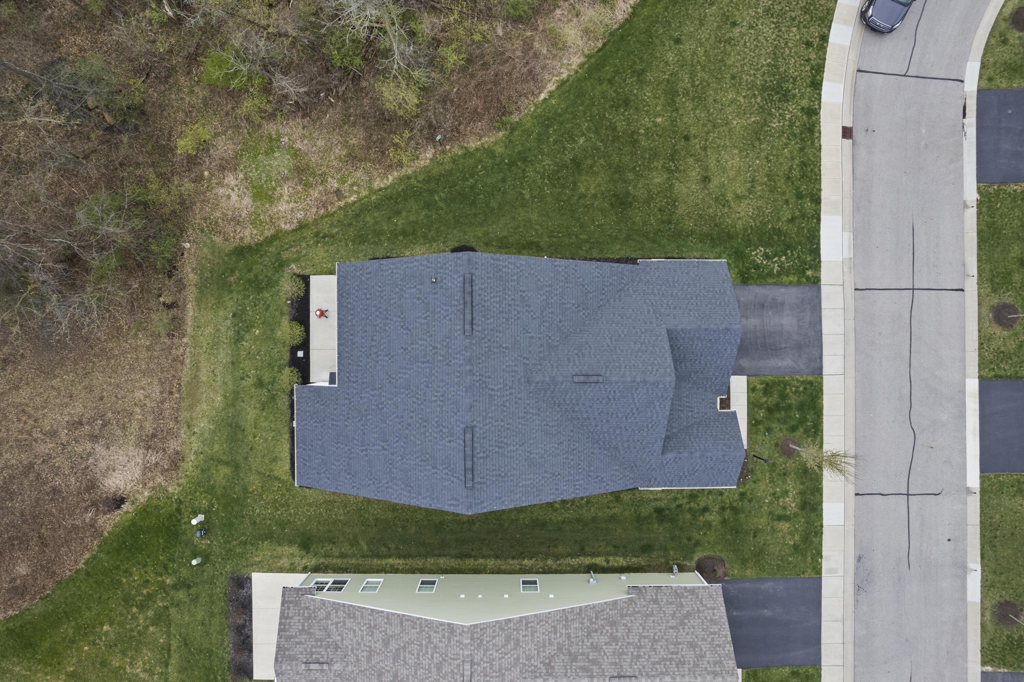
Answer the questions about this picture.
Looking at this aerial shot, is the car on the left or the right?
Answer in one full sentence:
The car sits on the right side.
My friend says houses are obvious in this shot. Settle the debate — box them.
[293,251,745,514]
[272,571,739,682]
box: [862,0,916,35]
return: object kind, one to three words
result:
car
